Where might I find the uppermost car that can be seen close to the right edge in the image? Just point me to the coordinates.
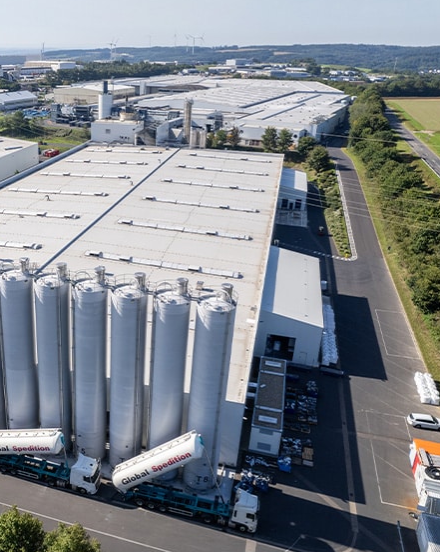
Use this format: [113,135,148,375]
[413,412,440,432]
